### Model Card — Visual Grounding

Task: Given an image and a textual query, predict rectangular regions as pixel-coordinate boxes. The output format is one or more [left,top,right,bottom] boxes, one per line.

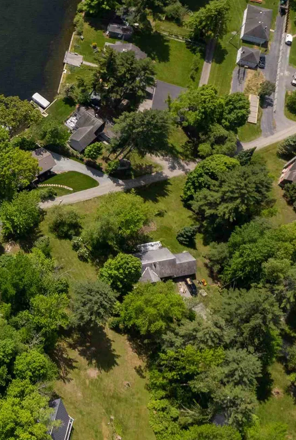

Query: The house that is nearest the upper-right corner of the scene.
[241,10,274,49]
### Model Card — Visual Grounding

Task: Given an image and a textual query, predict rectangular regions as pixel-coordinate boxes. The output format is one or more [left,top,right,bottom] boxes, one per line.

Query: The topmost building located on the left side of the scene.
[105,22,132,41]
